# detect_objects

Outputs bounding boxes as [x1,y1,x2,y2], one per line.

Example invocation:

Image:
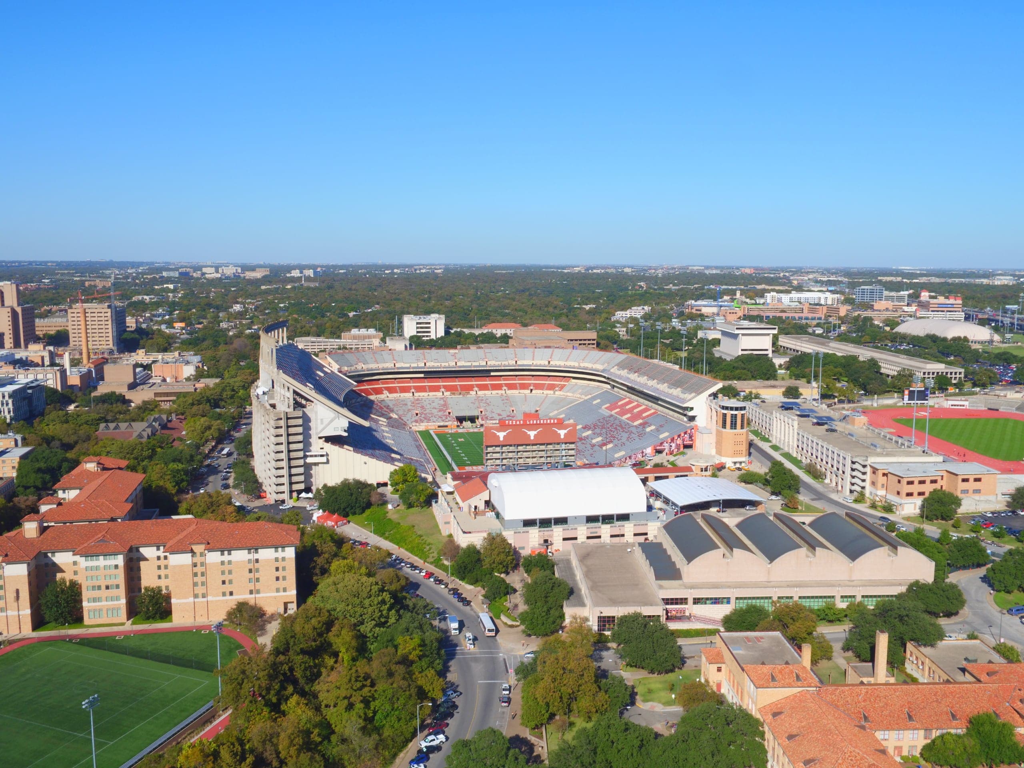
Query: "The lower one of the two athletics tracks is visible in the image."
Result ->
[0,625,261,751]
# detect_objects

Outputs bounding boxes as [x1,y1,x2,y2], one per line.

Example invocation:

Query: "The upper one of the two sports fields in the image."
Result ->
[413,426,483,476]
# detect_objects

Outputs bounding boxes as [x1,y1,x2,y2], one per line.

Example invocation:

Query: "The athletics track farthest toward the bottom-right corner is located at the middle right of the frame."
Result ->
[851,407,1024,468]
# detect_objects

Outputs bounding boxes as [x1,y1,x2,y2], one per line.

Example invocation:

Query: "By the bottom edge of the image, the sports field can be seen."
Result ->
[0,632,248,768]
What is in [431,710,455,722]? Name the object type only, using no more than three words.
vehicle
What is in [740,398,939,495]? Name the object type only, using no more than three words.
building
